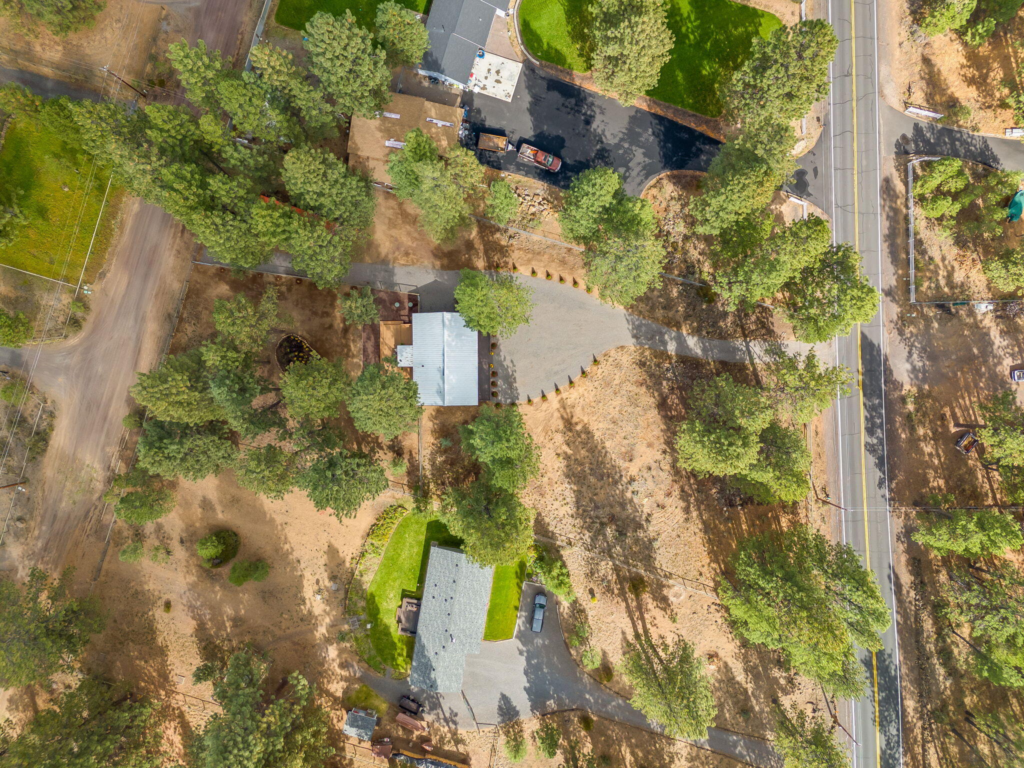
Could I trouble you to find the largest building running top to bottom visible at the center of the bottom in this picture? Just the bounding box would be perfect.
[409,537,495,692]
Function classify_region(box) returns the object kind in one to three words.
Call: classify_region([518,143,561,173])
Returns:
truck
